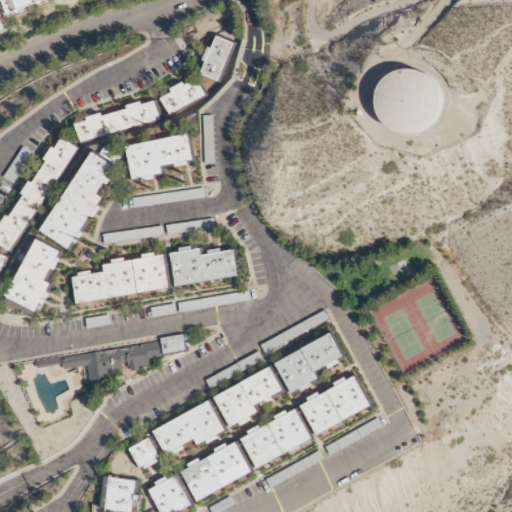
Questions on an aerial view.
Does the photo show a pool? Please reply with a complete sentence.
Yes, this view includes a pool.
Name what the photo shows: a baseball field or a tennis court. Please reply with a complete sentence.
Looking from above, you can make out a tennis court.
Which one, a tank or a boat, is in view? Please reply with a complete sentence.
Looking from above, you can make out a tank.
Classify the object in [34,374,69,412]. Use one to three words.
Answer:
swimming pool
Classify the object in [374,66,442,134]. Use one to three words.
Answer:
storage tank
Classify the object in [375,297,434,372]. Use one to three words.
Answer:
tennis court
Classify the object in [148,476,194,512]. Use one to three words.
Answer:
building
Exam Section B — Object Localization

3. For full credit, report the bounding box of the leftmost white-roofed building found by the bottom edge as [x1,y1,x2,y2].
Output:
[100,476,139,512]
